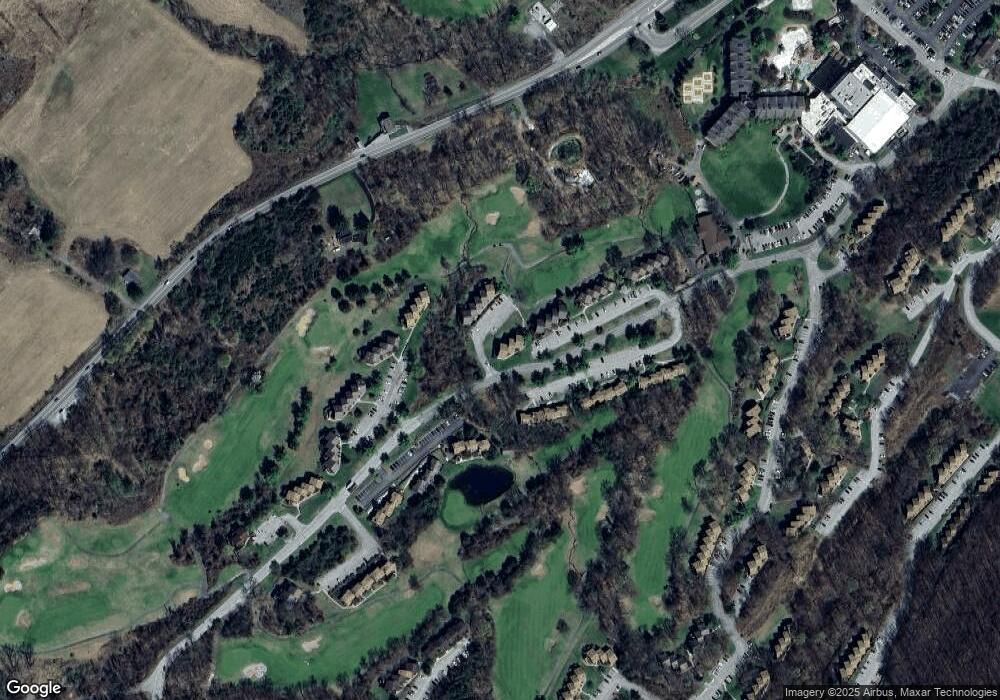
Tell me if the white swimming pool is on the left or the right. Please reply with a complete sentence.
The white swimming pool is on the right side of the image.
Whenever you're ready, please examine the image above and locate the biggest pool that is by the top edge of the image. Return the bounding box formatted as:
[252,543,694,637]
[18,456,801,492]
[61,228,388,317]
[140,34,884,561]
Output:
[763,20,818,94]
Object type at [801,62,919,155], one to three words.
building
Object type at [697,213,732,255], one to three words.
building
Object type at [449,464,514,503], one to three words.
pond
